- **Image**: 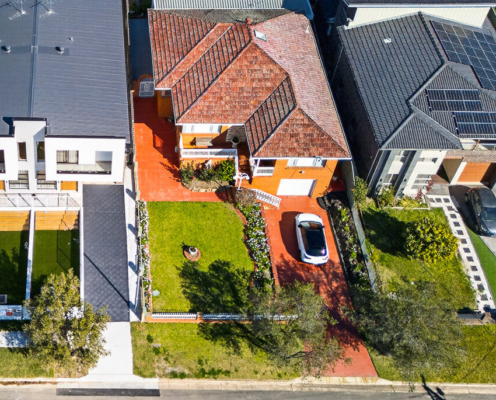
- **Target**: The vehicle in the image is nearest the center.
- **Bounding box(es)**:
[291,208,328,263]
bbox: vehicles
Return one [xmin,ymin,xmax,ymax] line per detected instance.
[291,208,328,263]
[469,185,496,240]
